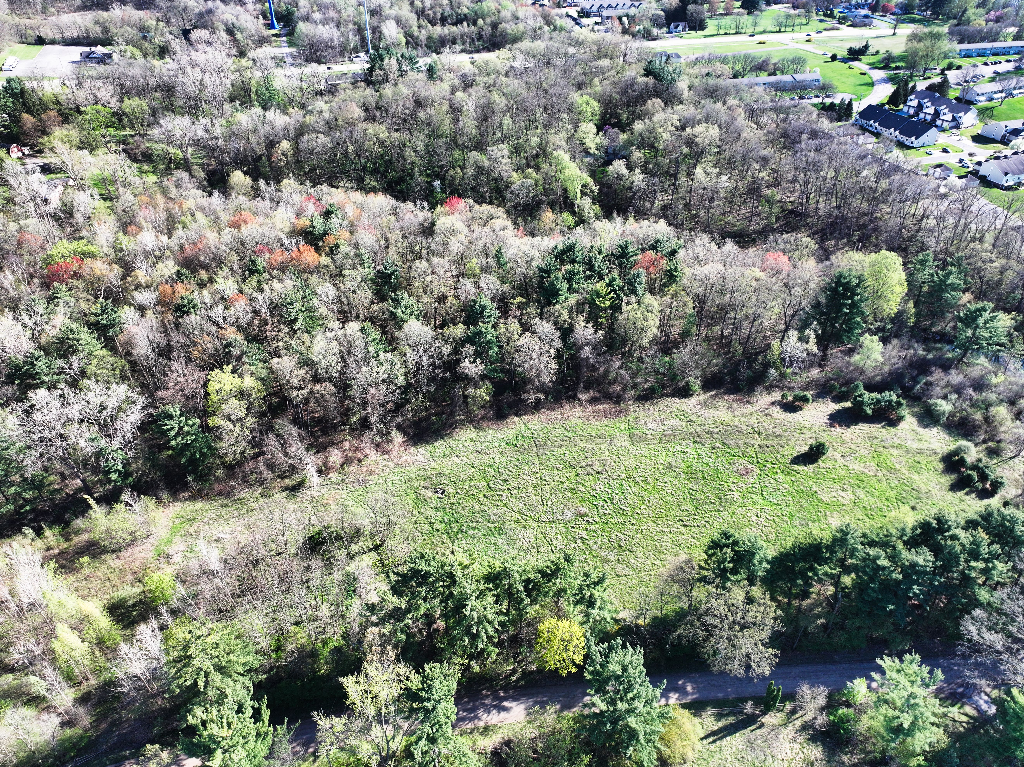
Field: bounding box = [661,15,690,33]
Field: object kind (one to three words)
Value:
house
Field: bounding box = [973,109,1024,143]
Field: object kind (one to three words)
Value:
house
